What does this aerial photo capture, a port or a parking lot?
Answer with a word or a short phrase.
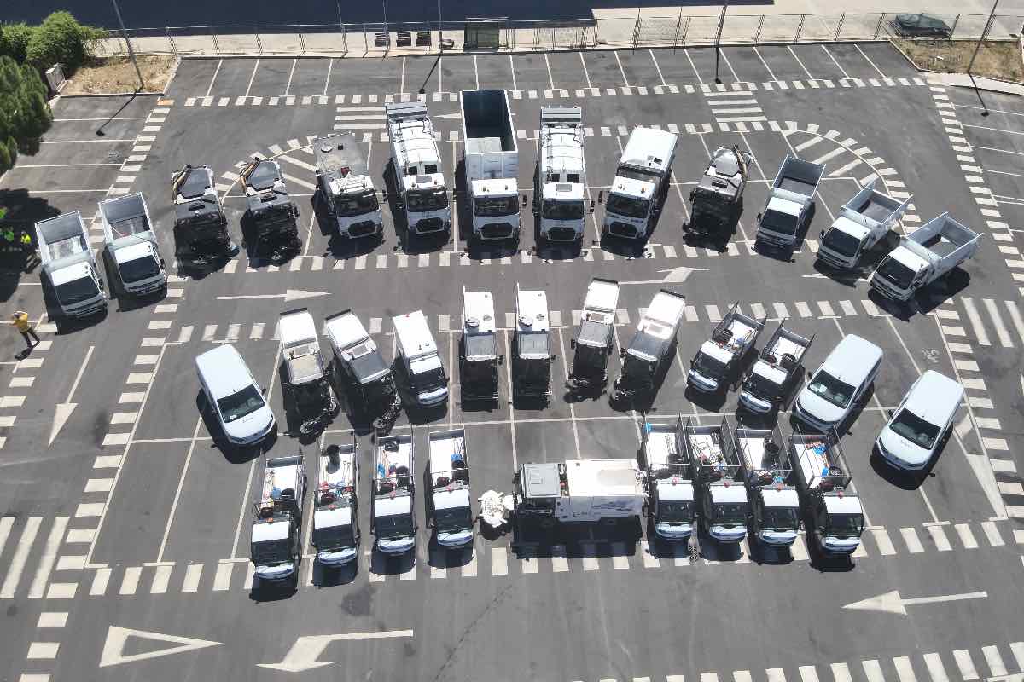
parking lot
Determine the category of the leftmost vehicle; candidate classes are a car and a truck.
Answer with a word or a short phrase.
truck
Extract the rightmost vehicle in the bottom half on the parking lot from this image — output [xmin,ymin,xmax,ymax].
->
[874,373,966,473]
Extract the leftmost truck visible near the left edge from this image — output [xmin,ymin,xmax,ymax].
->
[34,211,110,325]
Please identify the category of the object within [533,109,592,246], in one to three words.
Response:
truck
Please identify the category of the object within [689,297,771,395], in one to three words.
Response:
truck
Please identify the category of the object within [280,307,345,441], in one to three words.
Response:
vehicle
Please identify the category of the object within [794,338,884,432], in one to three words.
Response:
van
